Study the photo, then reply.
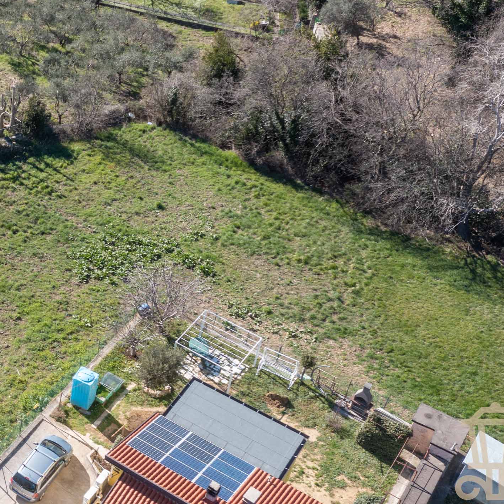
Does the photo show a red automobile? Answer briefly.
No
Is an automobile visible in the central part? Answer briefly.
No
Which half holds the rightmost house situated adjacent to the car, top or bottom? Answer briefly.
bottom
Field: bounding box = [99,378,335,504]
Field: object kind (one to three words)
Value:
house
